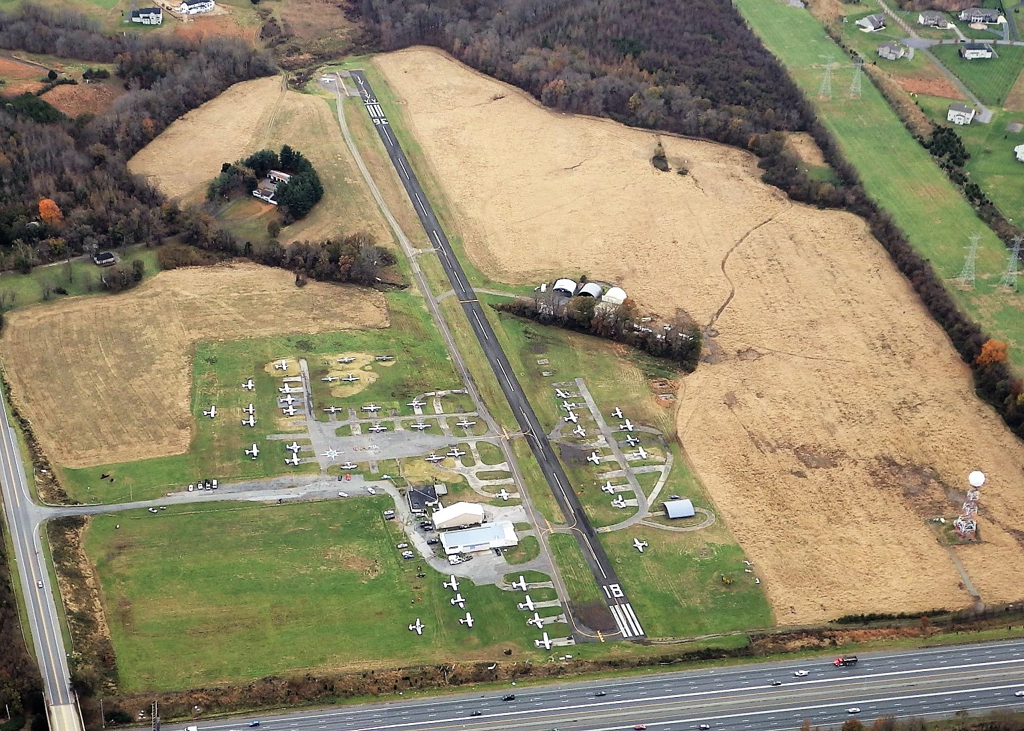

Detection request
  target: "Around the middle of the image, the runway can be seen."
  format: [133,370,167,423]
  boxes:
[348,70,650,644]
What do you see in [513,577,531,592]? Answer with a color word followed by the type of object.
white airplane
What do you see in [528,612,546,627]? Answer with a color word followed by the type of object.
white airplane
